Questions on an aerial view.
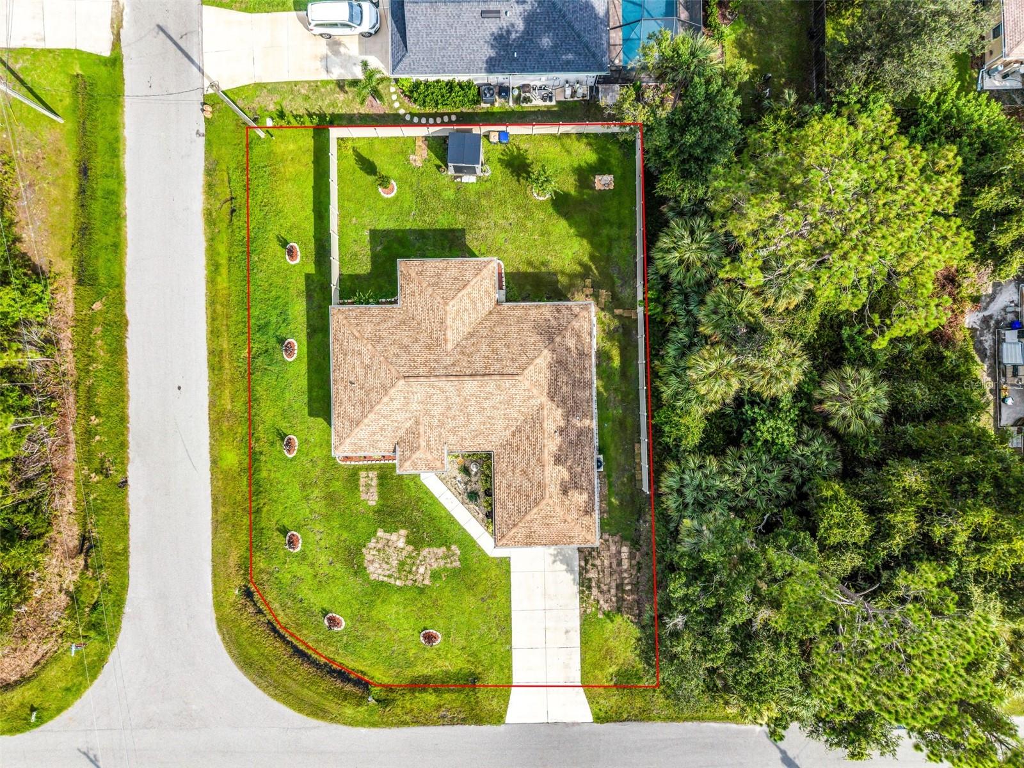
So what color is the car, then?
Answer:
white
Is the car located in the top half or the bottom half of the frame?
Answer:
top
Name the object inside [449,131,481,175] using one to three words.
shed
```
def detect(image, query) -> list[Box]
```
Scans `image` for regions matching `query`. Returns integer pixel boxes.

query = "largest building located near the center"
[331,259,597,547]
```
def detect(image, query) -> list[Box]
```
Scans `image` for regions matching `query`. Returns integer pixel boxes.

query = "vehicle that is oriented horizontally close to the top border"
[306,0,382,37]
